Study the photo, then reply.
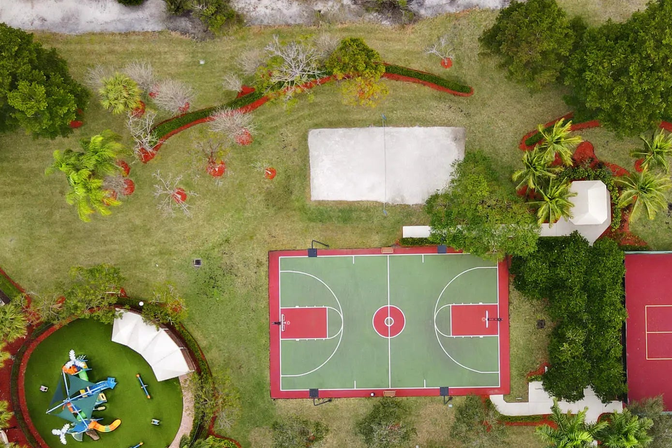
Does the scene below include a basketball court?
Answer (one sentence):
Yes, there's a basketball court down there.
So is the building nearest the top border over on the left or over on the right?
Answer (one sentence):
The building nearest the top border sits on the right side.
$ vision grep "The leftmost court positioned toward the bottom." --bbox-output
[268,246,510,398]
